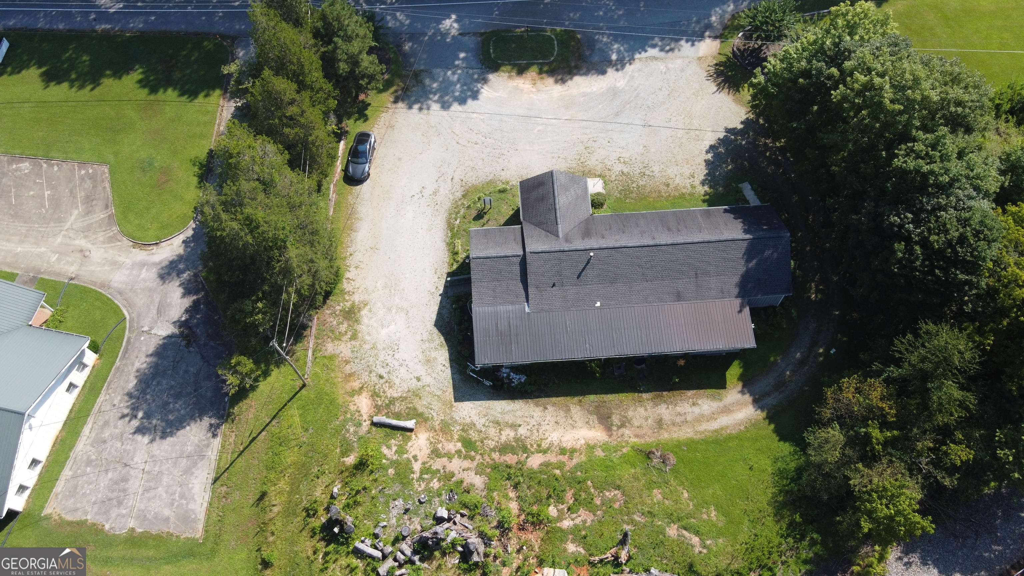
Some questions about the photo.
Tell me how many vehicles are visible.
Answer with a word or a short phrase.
1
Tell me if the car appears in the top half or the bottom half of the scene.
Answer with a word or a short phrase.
top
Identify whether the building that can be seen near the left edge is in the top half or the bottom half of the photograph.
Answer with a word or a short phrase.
bottom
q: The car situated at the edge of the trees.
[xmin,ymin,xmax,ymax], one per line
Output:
[344,125,377,179]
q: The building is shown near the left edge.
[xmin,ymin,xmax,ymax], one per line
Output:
[0,276,97,516]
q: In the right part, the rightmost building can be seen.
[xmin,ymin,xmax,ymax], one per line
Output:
[466,169,794,379]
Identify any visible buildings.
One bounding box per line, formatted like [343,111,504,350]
[466,169,794,379]
[0,276,97,516]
